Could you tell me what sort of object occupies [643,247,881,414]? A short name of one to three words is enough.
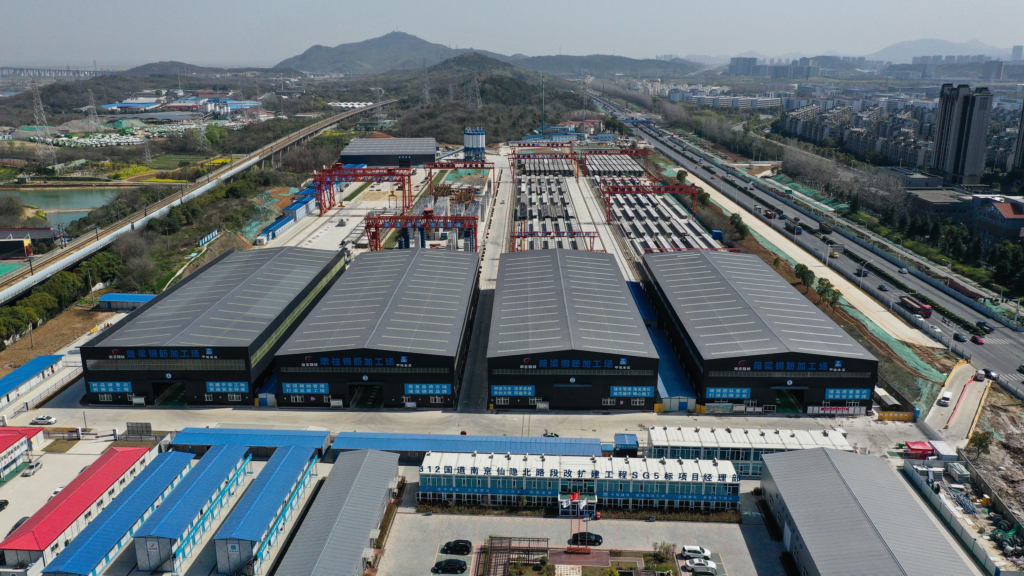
shed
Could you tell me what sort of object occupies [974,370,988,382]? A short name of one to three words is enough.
vehicle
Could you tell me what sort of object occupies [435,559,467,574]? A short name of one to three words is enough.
car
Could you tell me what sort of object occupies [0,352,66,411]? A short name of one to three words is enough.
building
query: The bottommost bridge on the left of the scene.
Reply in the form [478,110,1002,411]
[0,101,388,310]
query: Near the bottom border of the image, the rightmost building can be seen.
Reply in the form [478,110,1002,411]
[760,446,984,576]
